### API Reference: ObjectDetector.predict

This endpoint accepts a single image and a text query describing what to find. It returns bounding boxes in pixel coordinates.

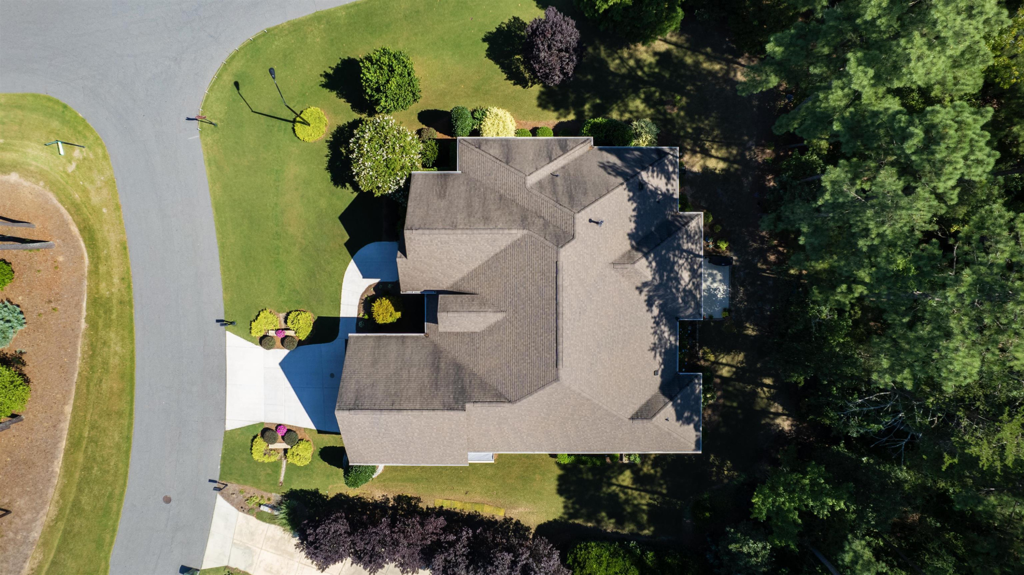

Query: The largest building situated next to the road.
[335,135,706,468]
